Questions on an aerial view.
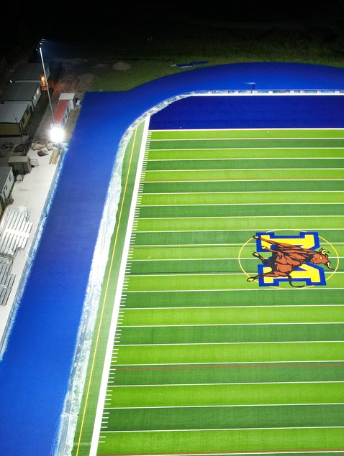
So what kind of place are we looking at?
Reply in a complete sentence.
The area seen from above is a sports ground.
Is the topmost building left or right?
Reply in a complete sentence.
It is on the left.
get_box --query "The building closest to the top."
[11,62,51,91]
